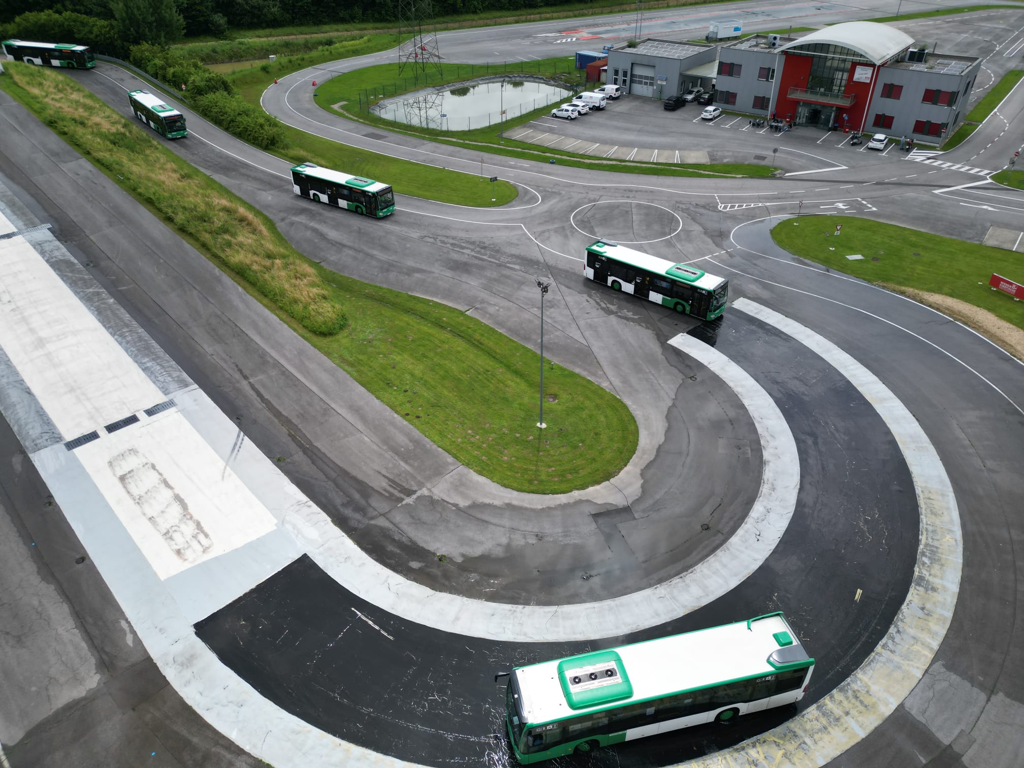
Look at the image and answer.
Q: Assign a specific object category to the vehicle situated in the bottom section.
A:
bus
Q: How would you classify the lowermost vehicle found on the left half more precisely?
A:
bus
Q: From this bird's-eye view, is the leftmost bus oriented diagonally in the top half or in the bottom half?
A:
top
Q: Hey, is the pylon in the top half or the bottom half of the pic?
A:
top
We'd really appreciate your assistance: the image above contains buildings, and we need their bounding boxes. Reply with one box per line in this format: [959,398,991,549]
[607,37,713,96]
[713,20,981,145]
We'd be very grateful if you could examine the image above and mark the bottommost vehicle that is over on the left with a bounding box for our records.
[290,159,400,219]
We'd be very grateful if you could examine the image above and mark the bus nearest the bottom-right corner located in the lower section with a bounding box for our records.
[499,611,814,762]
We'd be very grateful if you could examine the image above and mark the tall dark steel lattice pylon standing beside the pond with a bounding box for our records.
[399,0,443,81]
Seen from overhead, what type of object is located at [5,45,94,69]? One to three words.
bus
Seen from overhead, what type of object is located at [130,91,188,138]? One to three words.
bus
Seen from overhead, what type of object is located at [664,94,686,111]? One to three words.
car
